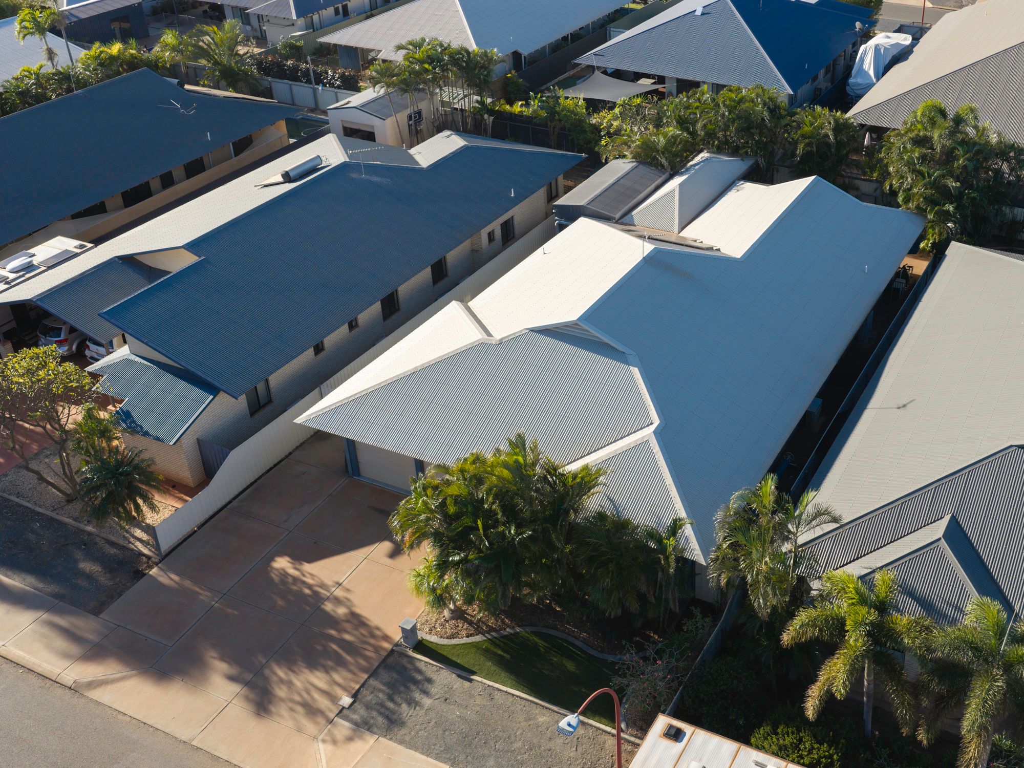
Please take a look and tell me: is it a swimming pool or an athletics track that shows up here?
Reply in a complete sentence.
Visible in the photo is a swimming pool.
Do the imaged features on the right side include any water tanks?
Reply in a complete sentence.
No, on the right side there is no water tank.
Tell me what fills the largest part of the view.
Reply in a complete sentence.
Most of the picture is covered by buildings.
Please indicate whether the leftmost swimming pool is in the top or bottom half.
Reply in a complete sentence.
You can find the leftmost swimming pool in the top half.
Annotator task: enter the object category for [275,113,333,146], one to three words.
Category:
swimming pool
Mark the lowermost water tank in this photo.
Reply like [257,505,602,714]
[273,146,335,177]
